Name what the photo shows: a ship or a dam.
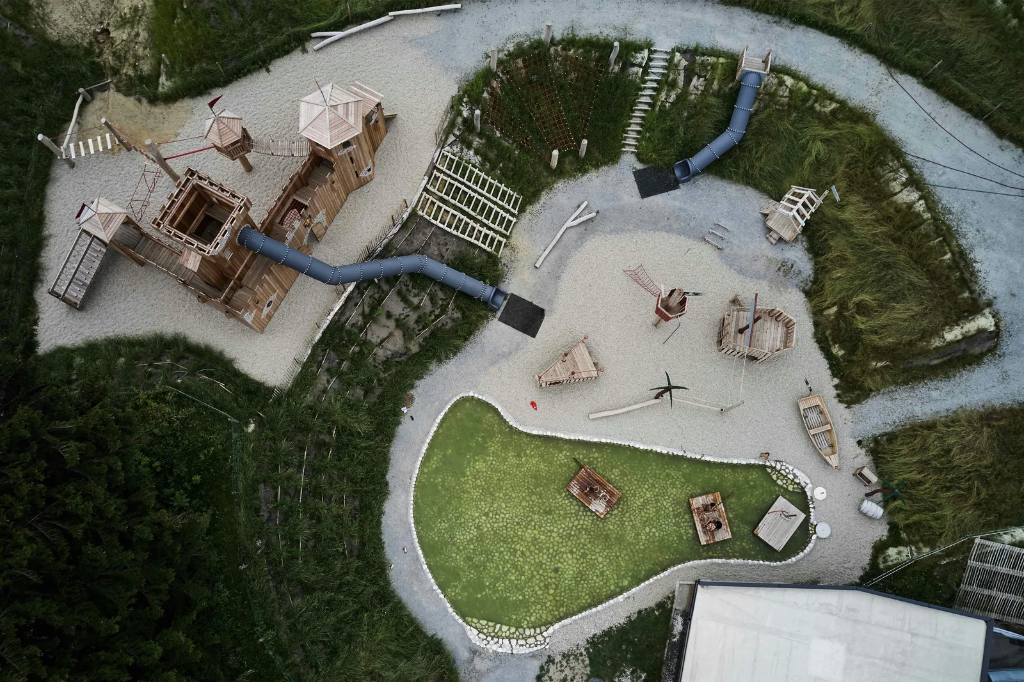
ship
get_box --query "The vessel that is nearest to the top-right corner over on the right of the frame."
[717,293,797,364]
